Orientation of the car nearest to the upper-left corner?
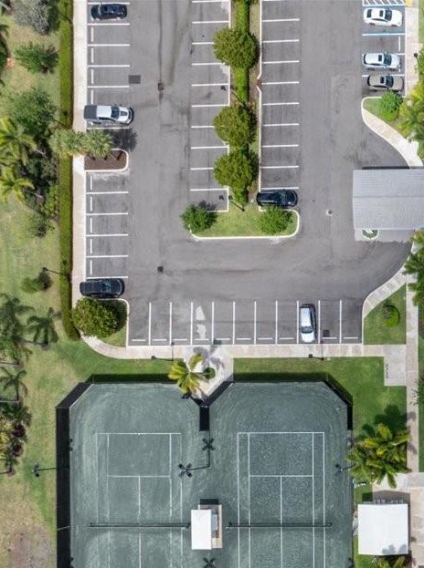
from side to side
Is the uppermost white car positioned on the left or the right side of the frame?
right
